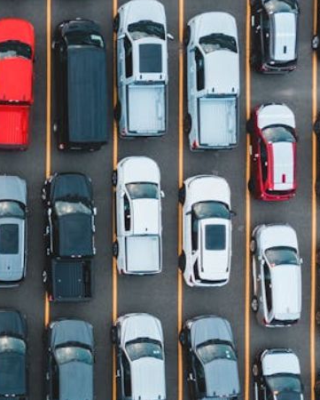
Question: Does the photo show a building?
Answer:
No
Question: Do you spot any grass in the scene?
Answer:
No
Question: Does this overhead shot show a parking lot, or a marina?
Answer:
parking lot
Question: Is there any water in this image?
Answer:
No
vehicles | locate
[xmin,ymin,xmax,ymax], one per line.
[0,309,33,400]
[112,313,169,400]
[114,0,172,138]
[181,175,236,286]
[44,318,101,400]
[247,103,302,200]
[0,176,31,287]
[181,315,243,400]
[249,0,305,74]
[248,224,305,327]
[54,17,111,151]
[114,157,167,275]
[184,12,245,150]
[0,17,40,149]
[252,349,307,400]
[43,173,100,301]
